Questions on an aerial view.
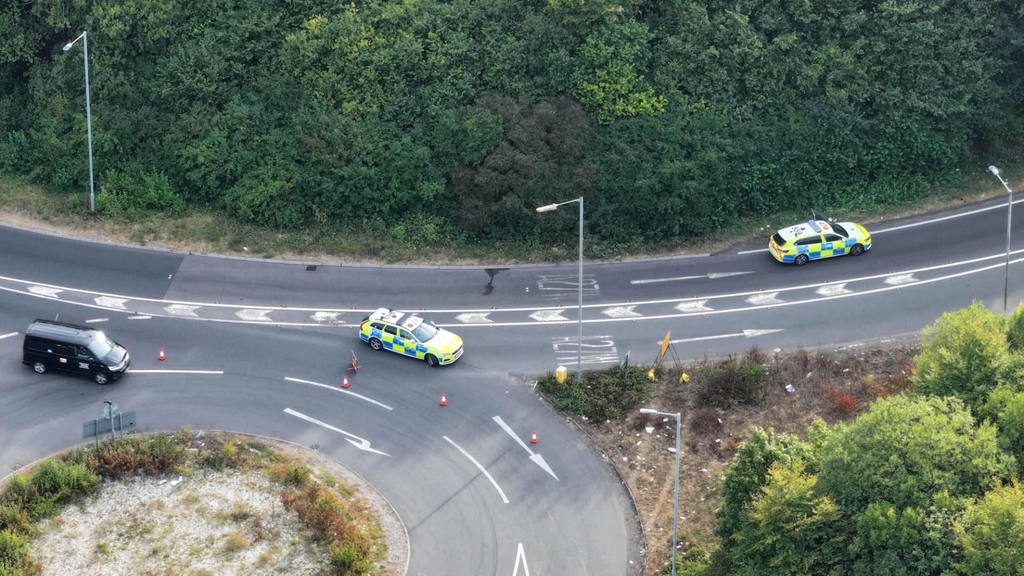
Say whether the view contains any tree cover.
Yes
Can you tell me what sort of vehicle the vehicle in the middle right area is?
automobile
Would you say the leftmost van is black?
Yes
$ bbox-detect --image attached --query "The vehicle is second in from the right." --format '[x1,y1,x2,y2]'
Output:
[358,307,464,366]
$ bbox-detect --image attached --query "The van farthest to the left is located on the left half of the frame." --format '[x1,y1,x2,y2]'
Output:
[19,315,130,383]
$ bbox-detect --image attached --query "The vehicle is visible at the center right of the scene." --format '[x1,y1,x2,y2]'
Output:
[768,208,872,265]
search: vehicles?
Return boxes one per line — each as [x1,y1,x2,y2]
[358,307,464,366]
[19,315,130,383]
[768,208,872,265]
